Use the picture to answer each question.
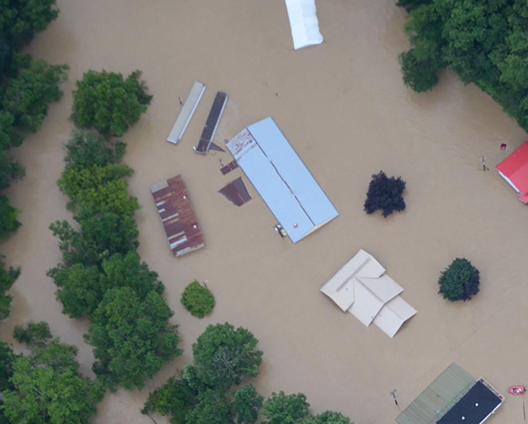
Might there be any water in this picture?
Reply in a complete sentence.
Yes, water can be seen from above here.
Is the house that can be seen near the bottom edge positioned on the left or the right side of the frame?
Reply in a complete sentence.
You can find the house that can be seen near the bottom edge on the right side of the picture.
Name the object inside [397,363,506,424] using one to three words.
house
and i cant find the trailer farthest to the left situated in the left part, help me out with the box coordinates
[167,82,206,146]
